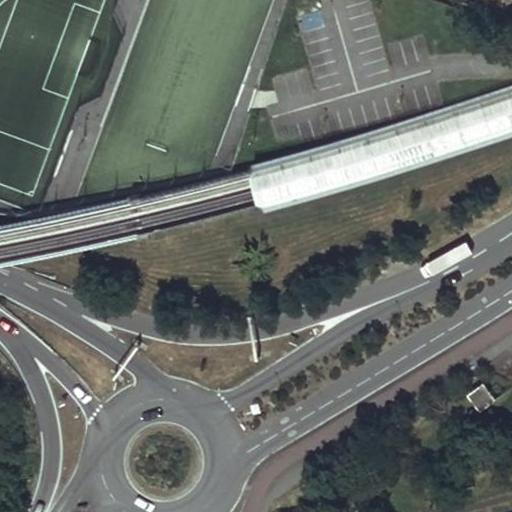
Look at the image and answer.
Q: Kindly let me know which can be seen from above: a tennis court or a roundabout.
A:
roundabout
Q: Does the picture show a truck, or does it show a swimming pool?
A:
truck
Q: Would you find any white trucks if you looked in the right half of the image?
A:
Yes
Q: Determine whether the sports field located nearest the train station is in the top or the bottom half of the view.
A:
top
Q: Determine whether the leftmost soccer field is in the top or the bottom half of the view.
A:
top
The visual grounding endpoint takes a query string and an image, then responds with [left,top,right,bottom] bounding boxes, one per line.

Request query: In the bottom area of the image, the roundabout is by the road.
[126,422,204,501]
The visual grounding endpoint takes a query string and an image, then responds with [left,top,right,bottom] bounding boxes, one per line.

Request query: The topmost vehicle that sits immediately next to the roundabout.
[141,408,162,422]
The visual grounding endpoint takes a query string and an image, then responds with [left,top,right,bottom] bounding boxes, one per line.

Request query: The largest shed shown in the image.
[466,384,495,412]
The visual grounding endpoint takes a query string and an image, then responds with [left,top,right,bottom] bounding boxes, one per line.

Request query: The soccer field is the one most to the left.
[0,0,122,213]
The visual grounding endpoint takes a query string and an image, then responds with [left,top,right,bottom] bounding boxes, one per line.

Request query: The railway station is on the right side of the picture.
[250,86,512,210]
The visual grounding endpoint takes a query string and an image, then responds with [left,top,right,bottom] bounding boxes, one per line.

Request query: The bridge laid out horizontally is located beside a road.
[0,96,511,269]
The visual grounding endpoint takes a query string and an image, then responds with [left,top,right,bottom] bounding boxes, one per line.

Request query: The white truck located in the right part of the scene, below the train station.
[420,242,472,280]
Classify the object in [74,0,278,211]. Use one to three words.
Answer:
sports field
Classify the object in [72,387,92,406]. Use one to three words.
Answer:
car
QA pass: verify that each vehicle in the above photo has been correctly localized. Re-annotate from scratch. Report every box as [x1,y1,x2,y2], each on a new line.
[135,498,156,512]
[34,502,46,512]
[420,242,472,280]
[442,270,462,286]
[141,408,162,422]
[72,387,92,406]
[0,318,18,336]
